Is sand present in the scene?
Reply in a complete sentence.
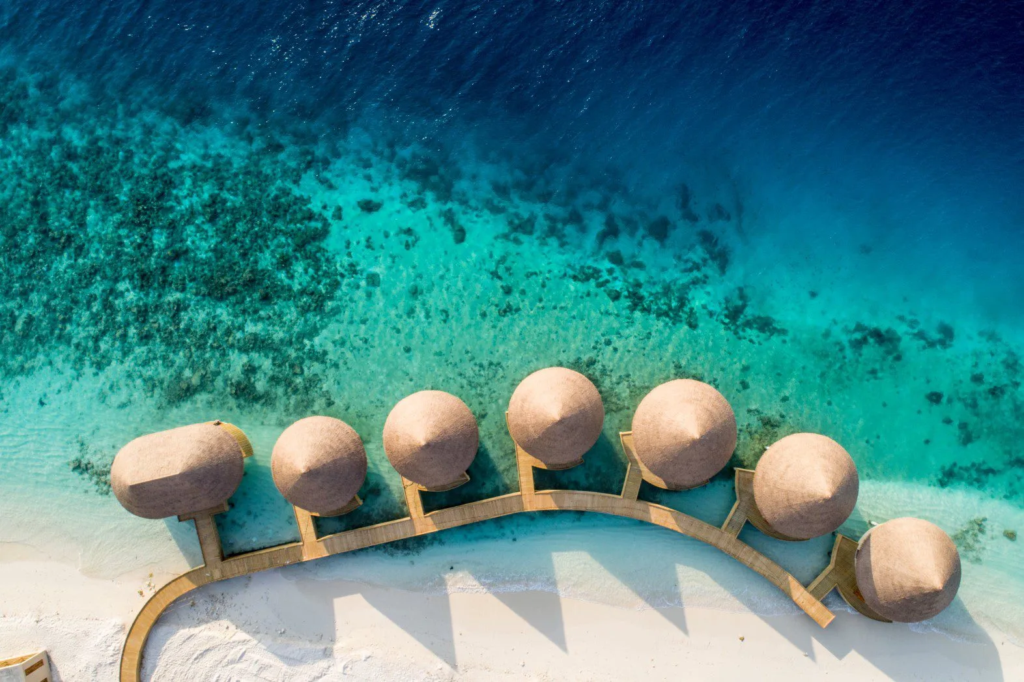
Yes, sand shows up in the scene.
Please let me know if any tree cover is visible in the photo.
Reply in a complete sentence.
No, no tree cover is visible.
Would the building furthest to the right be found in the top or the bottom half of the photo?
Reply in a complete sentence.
The bottom half of the photo is where the building furthest to the right is.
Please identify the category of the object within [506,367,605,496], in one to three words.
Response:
building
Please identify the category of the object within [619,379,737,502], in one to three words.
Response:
building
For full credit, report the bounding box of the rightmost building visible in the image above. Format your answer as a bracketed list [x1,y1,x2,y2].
[805,516,960,623]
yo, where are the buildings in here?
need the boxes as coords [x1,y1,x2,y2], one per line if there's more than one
[0,651,49,682]
[383,390,479,521]
[506,367,605,496]
[111,420,255,567]
[721,432,858,542]
[805,516,960,623]
[271,416,368,545]
[619,379,737,502]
